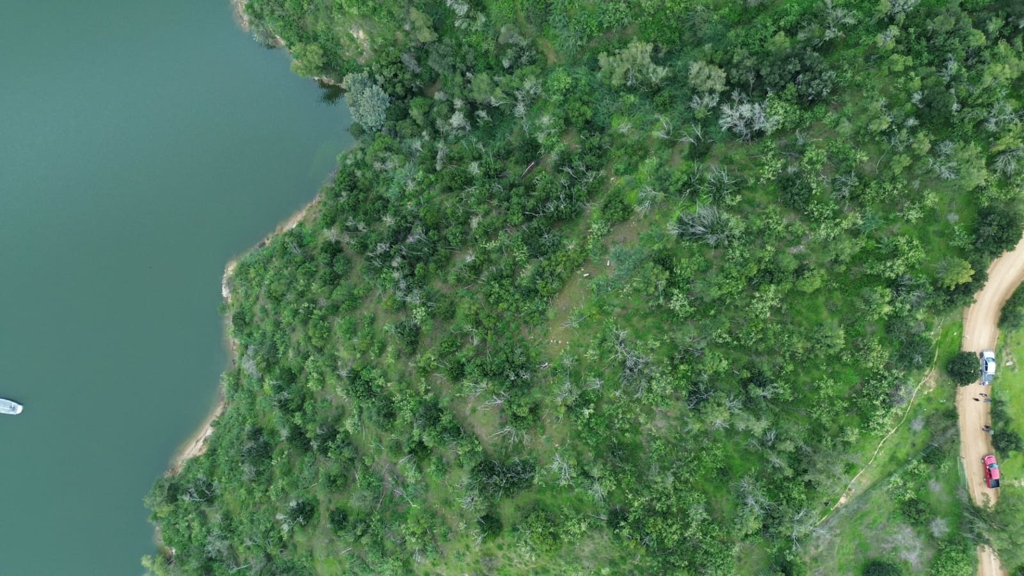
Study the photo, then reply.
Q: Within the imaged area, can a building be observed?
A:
No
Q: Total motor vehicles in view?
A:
two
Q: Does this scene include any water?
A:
Yes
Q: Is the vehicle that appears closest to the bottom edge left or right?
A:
right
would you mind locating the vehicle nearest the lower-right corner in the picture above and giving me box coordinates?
[982,455,1002,492]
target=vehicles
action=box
[982,455,1002,492]
[979,351,999,386]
